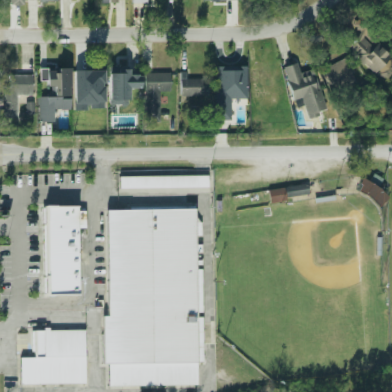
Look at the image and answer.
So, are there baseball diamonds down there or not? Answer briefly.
Yes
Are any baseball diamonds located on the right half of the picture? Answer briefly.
Yes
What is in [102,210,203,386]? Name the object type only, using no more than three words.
building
